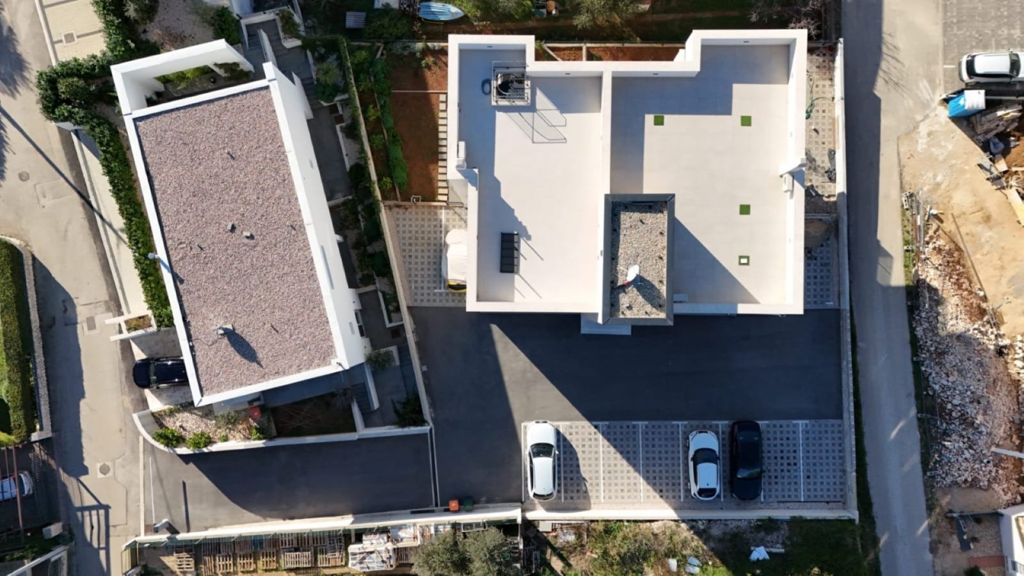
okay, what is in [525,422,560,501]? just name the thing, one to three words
car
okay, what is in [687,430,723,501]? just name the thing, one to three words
car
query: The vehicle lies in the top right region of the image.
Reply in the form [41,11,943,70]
[955,47,1024,86]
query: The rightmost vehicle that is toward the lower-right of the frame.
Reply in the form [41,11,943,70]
[728,421,767,501]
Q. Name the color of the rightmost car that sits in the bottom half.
black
